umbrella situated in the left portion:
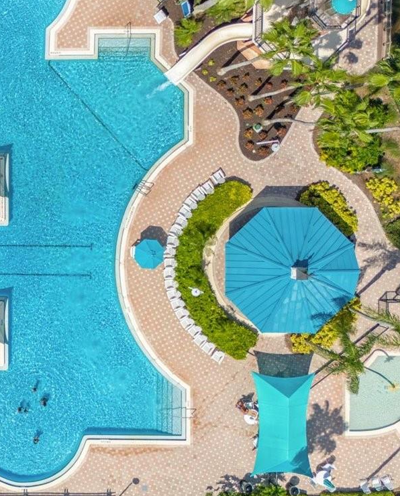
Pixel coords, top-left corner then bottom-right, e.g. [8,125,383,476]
[134,239,163,269]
